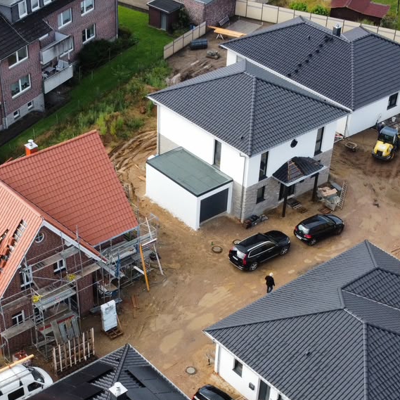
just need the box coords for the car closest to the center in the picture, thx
[225,227,295,270]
